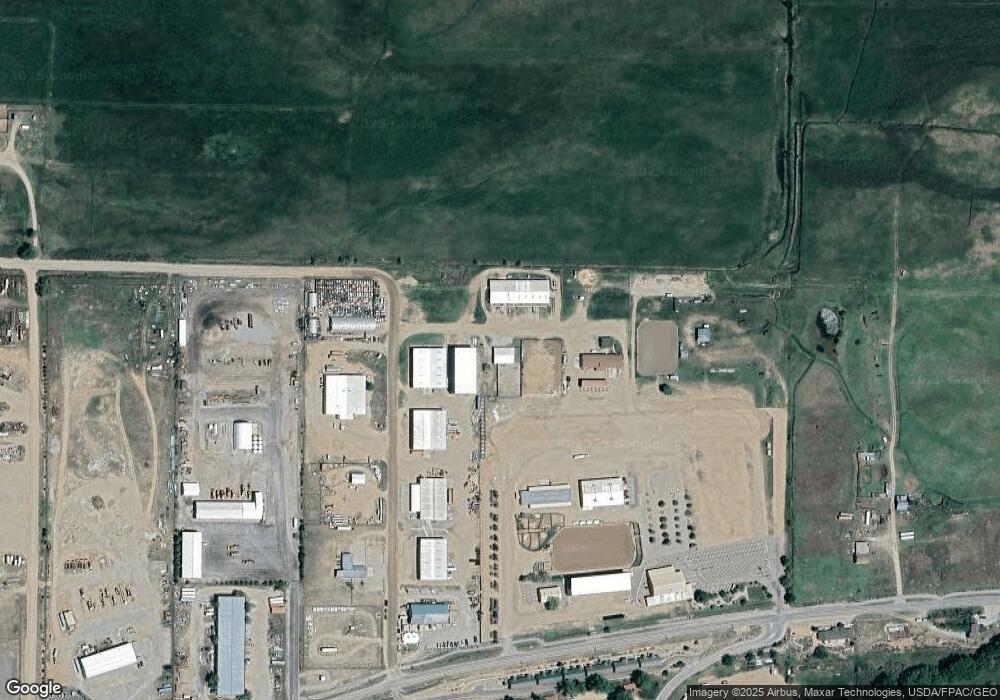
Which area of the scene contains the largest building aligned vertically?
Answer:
bottom left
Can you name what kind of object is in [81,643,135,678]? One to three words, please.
building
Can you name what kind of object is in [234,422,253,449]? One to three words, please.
shed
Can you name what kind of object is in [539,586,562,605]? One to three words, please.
house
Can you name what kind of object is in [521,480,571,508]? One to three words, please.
barn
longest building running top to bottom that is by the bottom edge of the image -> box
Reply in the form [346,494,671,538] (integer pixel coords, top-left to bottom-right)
[217,597,245,695]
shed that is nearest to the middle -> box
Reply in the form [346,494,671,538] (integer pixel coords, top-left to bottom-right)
[494,348,515,363]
